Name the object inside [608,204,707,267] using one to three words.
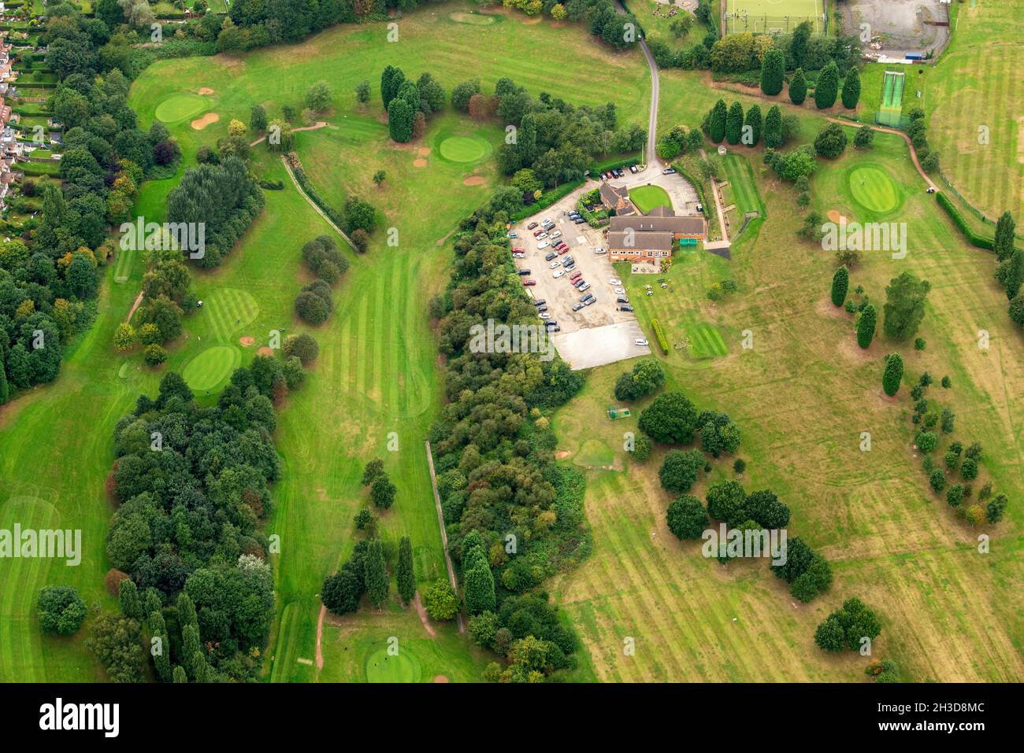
building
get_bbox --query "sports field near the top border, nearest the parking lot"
[721,0,821,33]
